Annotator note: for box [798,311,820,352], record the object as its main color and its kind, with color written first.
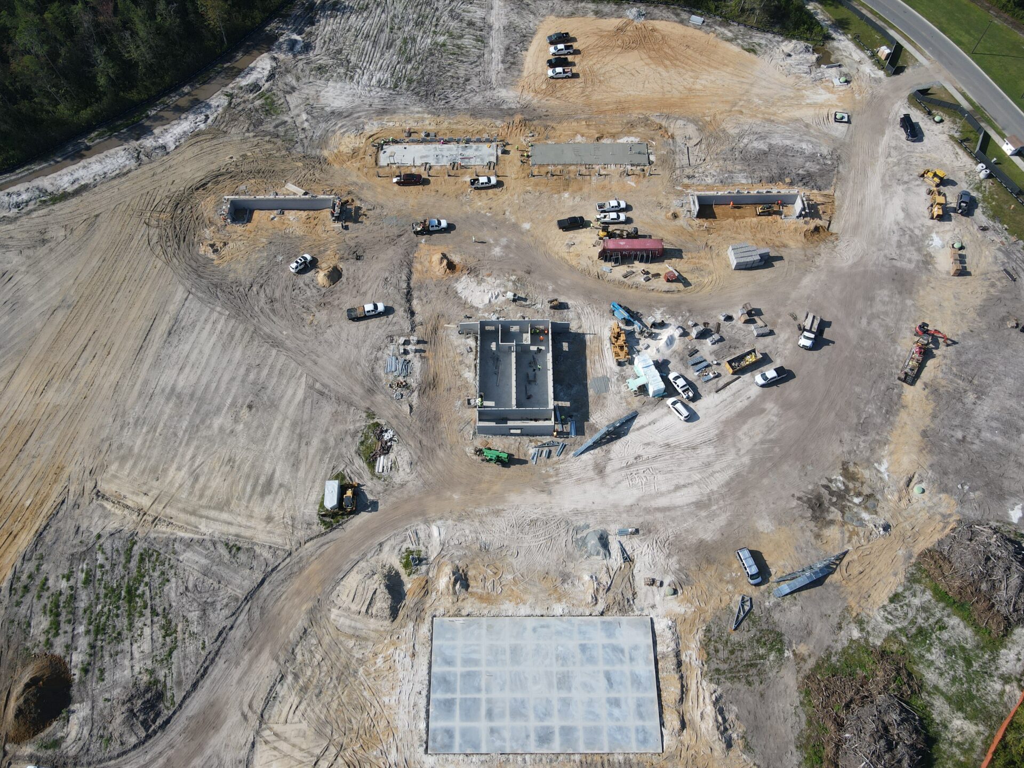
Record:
white truck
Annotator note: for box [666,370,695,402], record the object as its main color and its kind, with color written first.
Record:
white truck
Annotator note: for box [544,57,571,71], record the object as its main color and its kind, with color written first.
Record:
black vehicle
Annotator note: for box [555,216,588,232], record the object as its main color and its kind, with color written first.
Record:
black vehicle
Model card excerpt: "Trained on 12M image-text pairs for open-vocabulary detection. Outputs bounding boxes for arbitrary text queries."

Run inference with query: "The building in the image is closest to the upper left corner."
[223,199,331,223]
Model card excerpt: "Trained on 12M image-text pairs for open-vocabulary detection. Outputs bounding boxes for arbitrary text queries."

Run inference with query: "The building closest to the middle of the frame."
[461,320,568,434]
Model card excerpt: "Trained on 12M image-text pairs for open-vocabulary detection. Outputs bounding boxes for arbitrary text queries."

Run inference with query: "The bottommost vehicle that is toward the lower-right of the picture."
[733,549,760,589]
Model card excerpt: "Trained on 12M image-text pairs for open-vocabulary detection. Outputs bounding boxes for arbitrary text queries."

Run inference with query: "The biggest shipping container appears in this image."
[597,231,667,256]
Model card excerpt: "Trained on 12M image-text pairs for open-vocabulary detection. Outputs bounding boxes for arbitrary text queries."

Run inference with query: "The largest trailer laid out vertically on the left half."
[322,477,342,523]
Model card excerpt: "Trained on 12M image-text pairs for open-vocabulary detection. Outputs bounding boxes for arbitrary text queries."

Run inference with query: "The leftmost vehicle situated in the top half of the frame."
[288,256,316,273]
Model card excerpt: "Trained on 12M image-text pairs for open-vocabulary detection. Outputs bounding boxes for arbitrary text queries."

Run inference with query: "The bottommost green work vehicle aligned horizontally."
[470,445,511,465]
